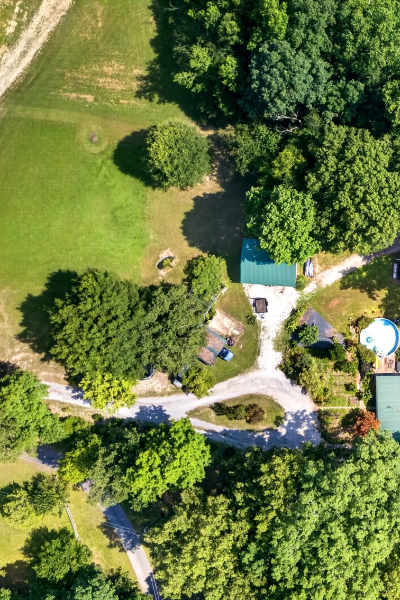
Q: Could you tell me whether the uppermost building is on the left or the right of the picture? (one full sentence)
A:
The uppermost building appears in the right half of the scene.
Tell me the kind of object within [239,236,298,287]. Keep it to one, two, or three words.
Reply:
building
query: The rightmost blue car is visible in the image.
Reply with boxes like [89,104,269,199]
[216,347,231,362]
